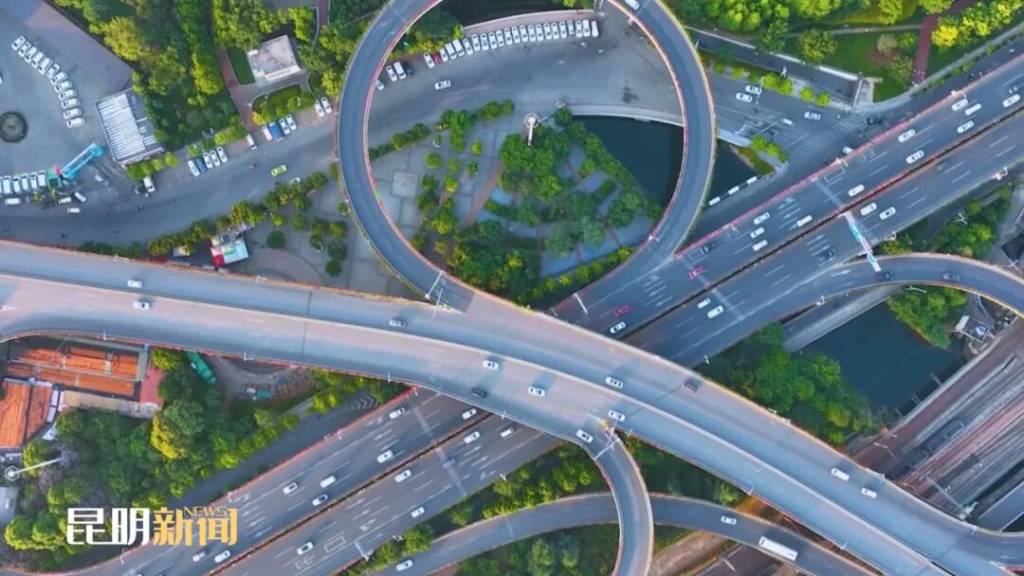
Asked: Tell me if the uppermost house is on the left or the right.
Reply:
left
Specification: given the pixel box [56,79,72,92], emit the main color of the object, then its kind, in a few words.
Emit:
white vehicle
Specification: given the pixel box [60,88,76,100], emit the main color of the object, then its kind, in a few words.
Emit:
white vehicle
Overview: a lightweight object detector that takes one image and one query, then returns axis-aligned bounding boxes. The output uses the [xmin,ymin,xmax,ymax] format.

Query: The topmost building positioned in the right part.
[993,226,1024,275]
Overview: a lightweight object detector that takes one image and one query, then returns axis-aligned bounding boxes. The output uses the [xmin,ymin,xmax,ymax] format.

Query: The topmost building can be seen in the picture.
[247,34,304,87]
